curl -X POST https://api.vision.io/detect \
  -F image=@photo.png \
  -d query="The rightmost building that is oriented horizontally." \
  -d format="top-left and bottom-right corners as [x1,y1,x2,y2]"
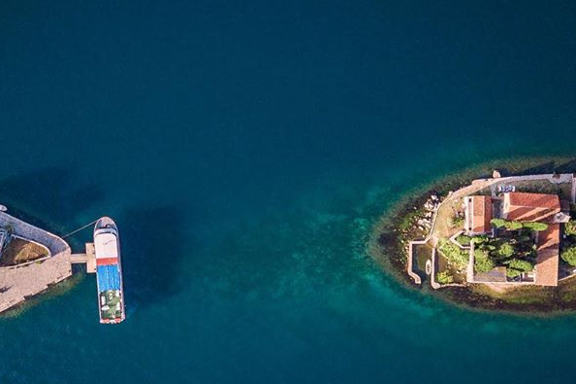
[502,193,571,225]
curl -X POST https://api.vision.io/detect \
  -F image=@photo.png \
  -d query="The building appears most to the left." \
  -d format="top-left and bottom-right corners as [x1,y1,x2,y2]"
[461,196,492,232]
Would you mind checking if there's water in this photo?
Yes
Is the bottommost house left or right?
right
